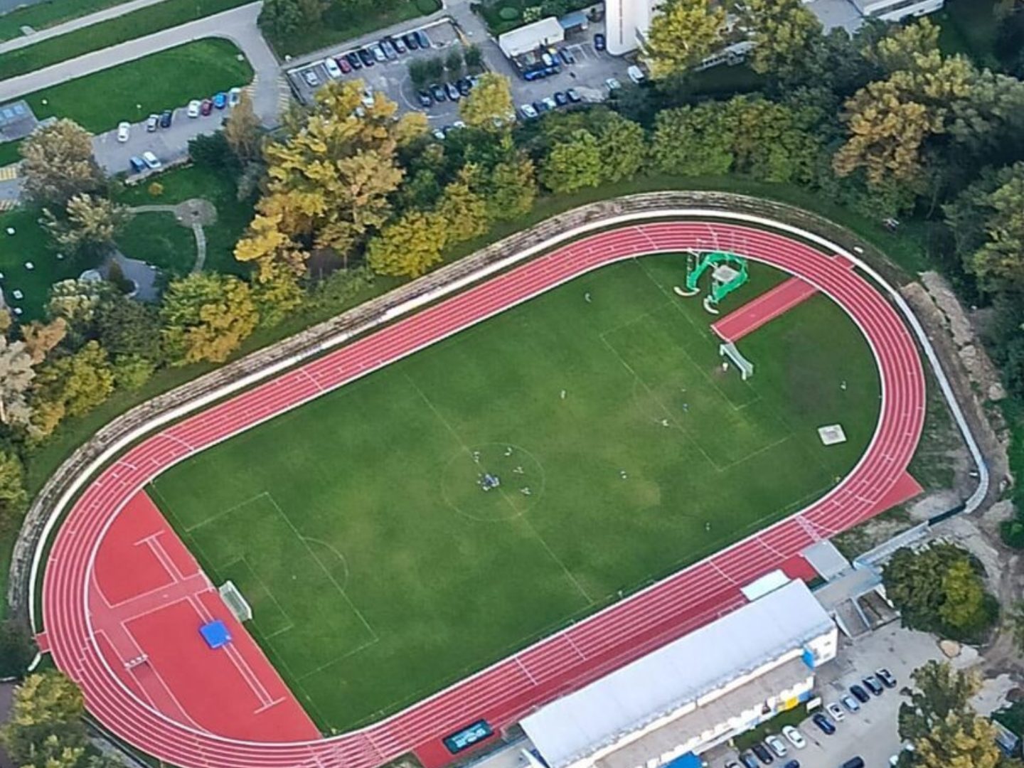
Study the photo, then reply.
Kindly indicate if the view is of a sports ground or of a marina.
sports ground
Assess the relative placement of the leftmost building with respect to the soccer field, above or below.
above it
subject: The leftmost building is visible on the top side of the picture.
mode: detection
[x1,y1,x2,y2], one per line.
[499,17,564,58]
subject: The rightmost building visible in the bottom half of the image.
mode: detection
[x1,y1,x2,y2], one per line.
[800,537,901,641]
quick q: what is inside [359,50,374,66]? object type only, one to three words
car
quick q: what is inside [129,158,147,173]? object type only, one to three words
car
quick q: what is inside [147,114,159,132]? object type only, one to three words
vehicle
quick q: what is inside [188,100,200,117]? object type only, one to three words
vehicle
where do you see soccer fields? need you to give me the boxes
[141,250,883,738]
